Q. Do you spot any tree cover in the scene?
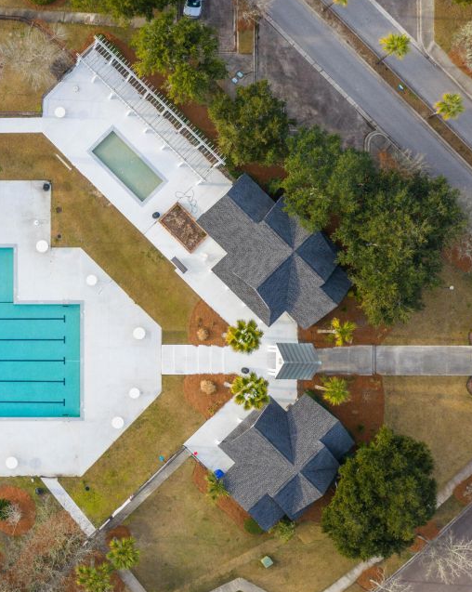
Yes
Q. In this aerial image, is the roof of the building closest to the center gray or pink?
gray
